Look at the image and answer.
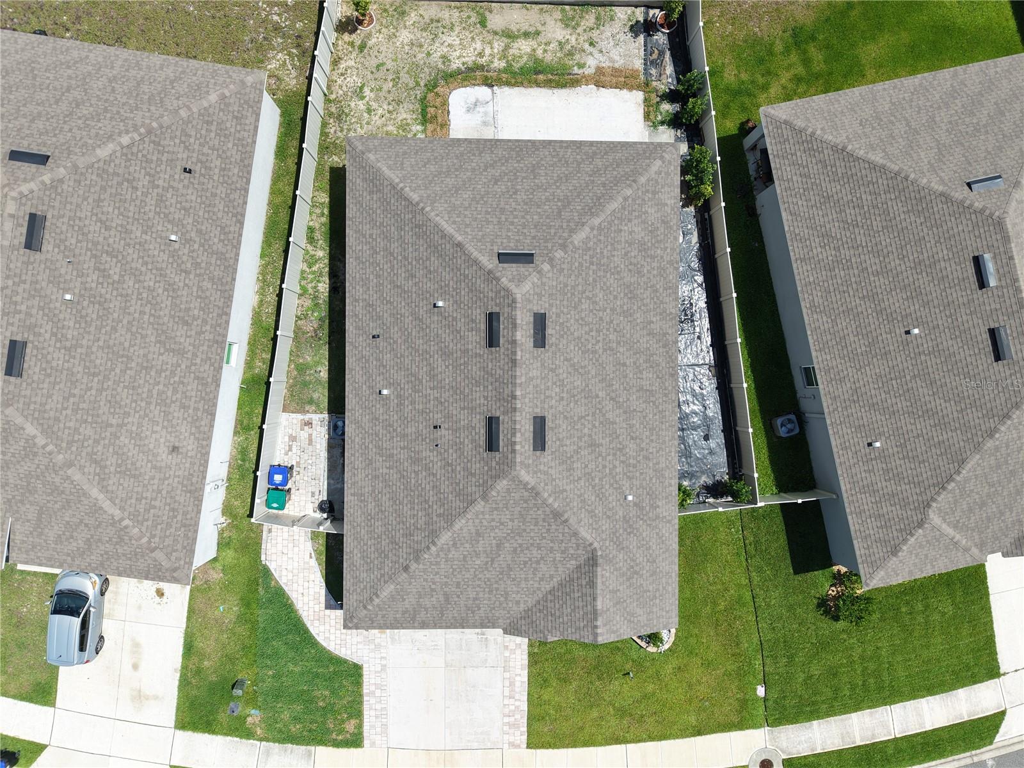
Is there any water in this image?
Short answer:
No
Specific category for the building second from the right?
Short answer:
residential house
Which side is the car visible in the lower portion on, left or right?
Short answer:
left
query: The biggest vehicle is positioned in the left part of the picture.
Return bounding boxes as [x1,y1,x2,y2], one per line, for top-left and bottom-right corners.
[44,569,110,664]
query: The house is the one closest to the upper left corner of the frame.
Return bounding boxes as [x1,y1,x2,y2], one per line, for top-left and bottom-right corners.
[0,35,283,587]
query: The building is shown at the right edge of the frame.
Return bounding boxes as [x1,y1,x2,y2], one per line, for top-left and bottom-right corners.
[744,54,1024,590]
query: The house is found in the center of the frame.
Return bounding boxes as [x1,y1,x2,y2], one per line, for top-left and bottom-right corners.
[341,136,682,646]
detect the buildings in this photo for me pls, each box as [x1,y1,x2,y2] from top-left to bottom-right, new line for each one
[341,136,682,646]
[0,35,283,587]
[744,54,1024,590]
